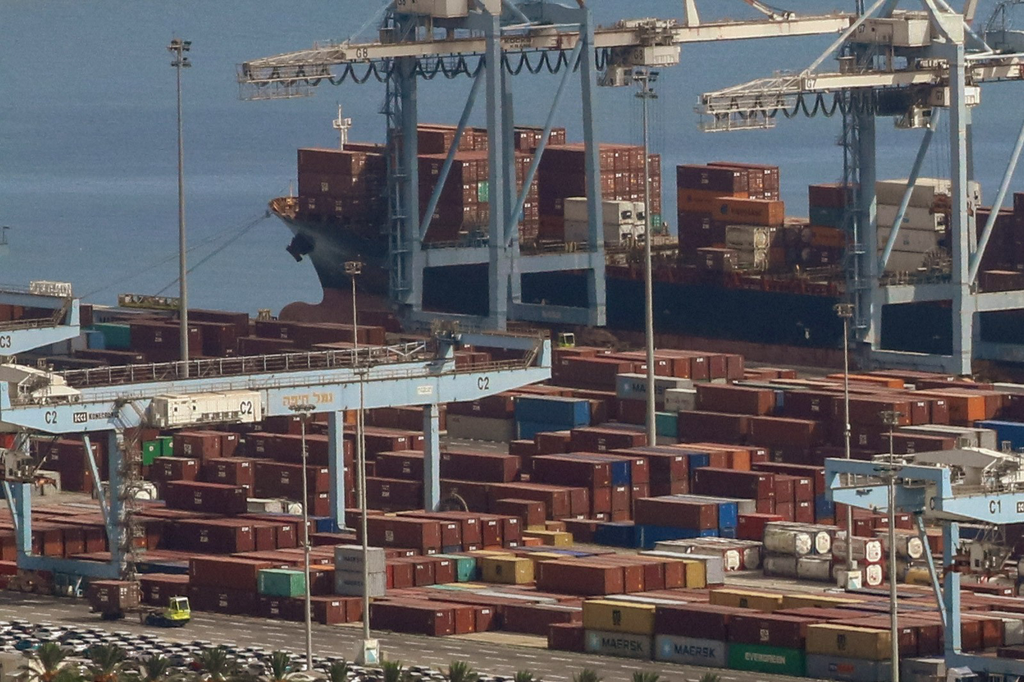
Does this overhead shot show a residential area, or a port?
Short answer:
port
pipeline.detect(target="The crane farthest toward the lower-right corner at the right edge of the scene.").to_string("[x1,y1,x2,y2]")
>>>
[817,432,1024,682]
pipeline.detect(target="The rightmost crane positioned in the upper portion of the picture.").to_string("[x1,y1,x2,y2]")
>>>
[687,0,1024,376]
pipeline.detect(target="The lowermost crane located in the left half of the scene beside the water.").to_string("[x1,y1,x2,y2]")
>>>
[0,315,551,582]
